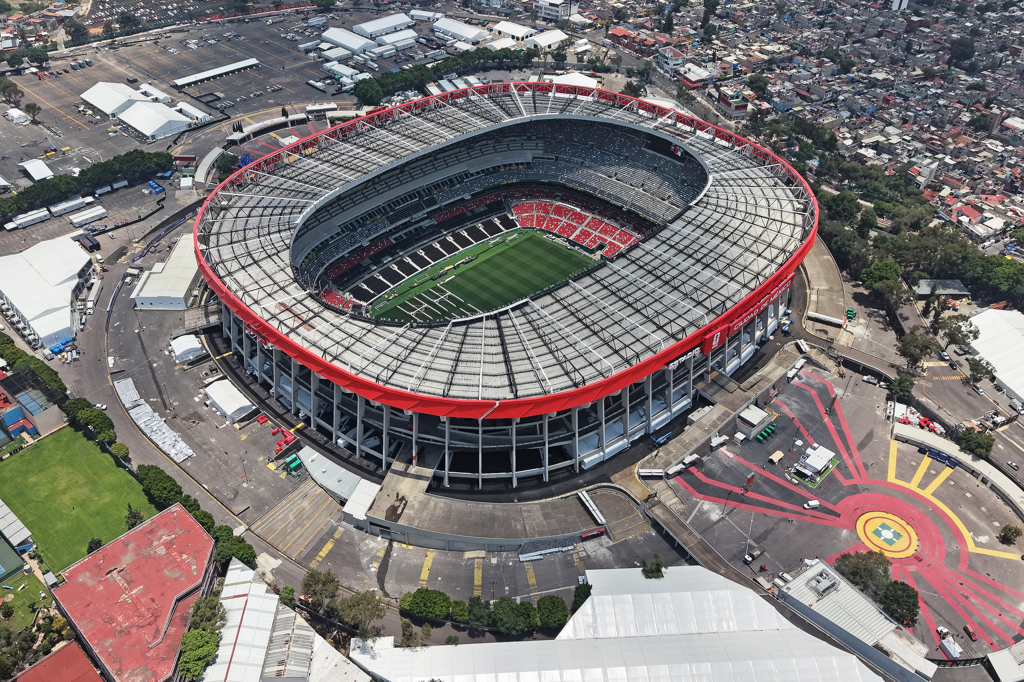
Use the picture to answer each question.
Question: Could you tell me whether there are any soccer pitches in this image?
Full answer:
Yes, a soccer pitch appears in the view.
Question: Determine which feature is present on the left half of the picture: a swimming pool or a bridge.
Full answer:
You can see a bridge on the left half of the picture.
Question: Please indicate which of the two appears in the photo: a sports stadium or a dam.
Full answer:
Of the two, only a sports stadium appears.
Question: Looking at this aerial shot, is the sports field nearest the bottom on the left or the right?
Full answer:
The sports field nearest the bottom is on the left side of the image.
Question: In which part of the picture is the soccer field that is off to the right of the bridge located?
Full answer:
The soccer field that is off to the right of the bridge sits in the center section of the image.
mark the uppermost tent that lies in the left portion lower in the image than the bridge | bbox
[173,341,203,368]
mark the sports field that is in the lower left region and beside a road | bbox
[0,424,170,574]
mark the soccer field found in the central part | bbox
[379,233,595,325]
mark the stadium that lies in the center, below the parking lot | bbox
[193,81,816,490]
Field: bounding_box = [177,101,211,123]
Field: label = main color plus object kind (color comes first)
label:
white tent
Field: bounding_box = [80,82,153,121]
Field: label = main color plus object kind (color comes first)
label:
white tent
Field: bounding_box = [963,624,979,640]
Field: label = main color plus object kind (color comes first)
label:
red car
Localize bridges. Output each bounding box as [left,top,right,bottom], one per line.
[184,299,223,332]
